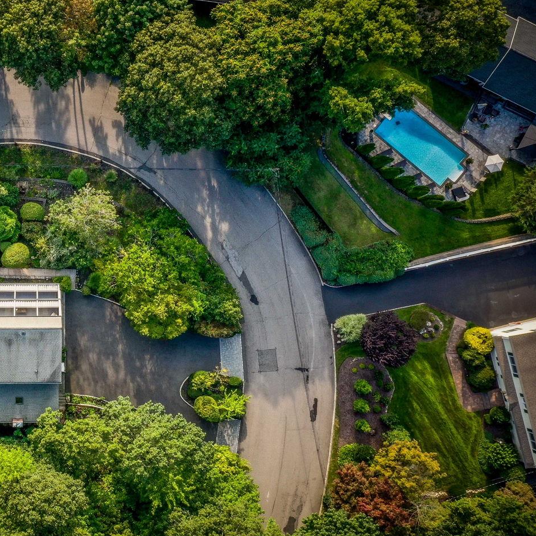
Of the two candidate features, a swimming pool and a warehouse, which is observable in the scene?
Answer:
swimming pool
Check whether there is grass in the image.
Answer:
Yes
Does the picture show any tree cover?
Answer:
Yes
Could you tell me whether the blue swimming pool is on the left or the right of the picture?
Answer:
right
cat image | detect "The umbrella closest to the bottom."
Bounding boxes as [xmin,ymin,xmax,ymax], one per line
[478,154,502,174]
